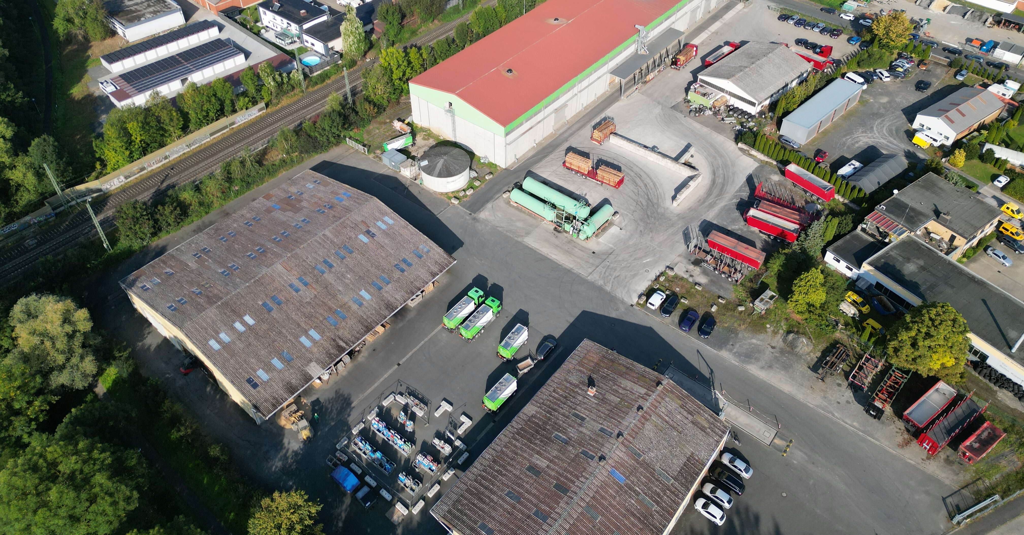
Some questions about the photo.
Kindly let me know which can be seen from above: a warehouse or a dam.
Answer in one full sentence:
The image shows a warehouse.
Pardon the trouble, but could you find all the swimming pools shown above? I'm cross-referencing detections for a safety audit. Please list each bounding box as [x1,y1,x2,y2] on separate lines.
[298,51,330,70]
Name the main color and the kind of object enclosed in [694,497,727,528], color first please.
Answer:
white car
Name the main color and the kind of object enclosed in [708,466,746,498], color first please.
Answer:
black car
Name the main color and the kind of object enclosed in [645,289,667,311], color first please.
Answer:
white vehicle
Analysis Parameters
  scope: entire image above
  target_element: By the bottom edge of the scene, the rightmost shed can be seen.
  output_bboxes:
[423,338,734,535]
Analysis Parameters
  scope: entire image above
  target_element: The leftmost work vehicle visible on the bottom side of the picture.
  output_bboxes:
[180,355,199,376]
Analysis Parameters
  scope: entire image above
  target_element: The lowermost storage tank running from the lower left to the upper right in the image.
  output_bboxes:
[583,206,617,238]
